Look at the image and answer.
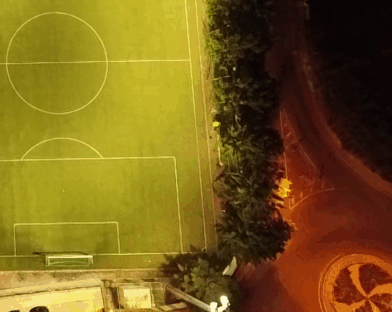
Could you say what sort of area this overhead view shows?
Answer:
sports ground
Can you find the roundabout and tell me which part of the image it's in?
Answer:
bottom right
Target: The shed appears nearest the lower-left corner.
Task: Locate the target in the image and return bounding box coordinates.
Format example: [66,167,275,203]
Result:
[120,286,153,309]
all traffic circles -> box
[321,251,392,312]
